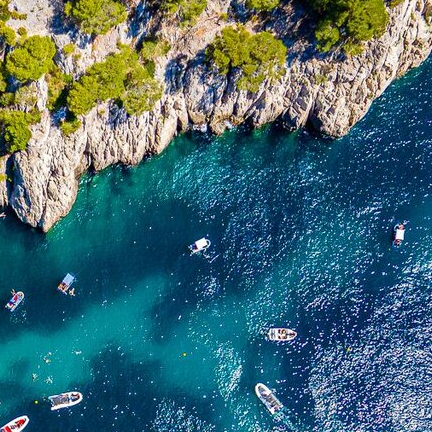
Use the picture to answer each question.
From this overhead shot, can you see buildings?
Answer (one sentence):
No, no building is visible in the view.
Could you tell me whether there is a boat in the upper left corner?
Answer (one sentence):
No, I see no boat in the upper left corner.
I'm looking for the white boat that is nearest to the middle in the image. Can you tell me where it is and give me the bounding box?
[188,238,210,255]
